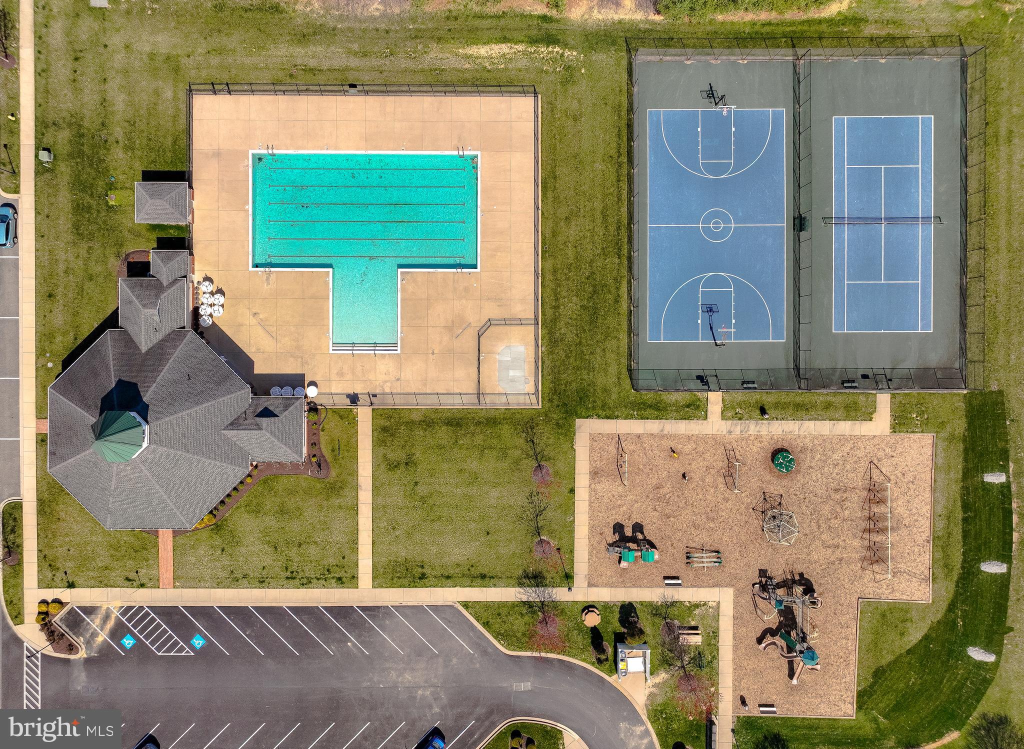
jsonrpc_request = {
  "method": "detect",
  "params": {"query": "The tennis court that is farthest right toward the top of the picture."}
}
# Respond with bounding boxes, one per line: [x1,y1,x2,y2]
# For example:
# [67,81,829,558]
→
[800,60,966,390]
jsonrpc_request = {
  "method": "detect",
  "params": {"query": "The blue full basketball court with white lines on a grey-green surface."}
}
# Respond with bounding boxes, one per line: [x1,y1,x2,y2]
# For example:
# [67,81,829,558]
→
[635,60,799,391]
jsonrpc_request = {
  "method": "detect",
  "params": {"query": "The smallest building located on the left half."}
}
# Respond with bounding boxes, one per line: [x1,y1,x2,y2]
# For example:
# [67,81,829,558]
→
[134,181,194,224]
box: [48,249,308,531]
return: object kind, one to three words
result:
building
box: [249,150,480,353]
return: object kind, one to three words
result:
swimming pool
